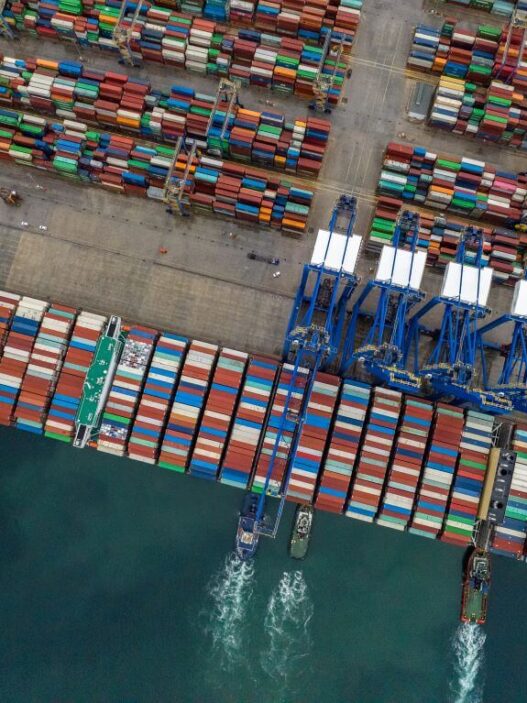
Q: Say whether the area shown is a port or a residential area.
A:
port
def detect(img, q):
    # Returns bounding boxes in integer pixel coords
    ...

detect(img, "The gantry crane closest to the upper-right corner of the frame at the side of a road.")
[482,8,527,91]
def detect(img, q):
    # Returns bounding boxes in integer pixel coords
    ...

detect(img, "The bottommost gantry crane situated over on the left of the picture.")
[162,136,203,216]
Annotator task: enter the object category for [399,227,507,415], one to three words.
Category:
container crane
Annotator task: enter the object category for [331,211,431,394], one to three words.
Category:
container crane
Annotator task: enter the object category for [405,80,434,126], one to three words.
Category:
shed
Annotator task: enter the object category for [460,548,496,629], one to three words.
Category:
boat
